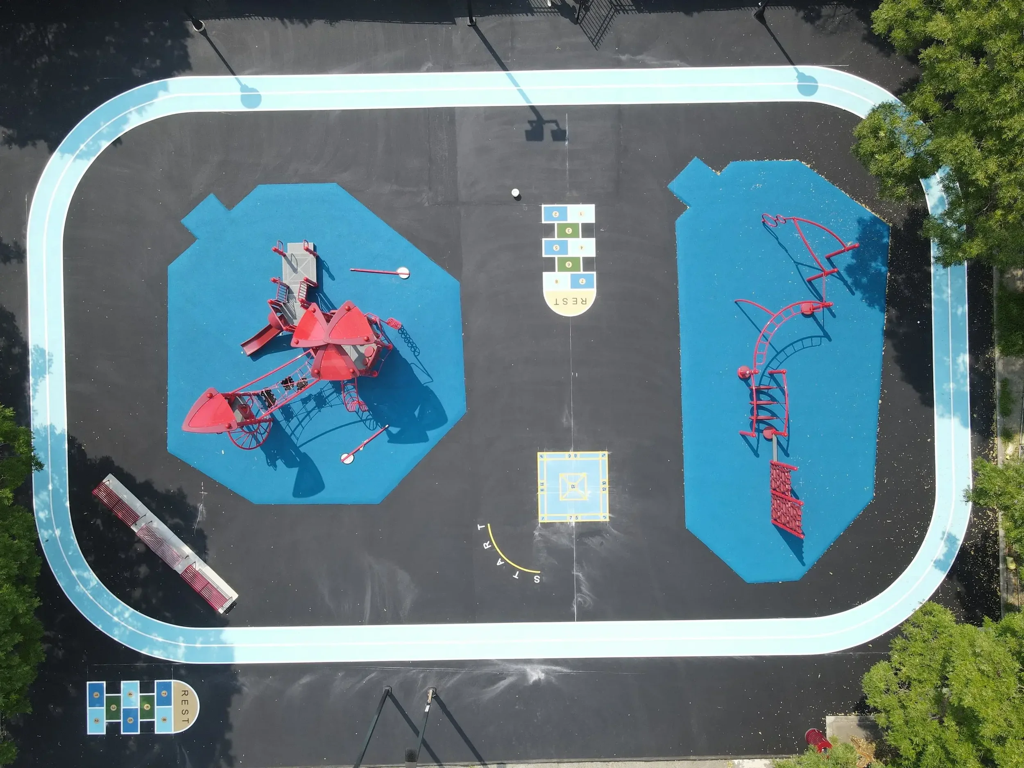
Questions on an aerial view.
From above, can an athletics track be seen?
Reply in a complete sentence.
Yes, an athletics track can be made out from above.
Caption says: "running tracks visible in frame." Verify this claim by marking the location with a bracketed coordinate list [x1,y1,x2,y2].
[27,66,973,664]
